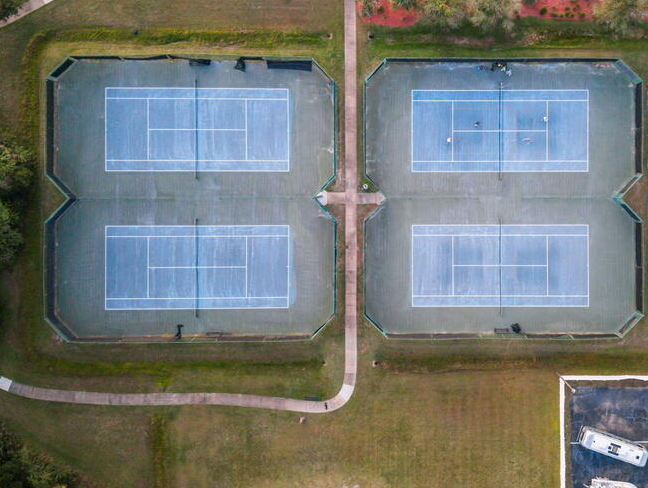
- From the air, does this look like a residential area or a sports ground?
sports ground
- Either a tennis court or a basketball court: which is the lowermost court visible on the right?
tennis court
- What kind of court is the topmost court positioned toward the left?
tennis court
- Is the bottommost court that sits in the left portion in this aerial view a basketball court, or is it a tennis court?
tennis court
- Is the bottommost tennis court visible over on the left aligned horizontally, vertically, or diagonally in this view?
horizontally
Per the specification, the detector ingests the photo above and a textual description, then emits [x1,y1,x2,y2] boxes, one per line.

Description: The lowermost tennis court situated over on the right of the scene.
[367,198,633,333]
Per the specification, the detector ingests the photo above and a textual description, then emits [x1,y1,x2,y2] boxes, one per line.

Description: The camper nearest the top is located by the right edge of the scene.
[573,423,647,468]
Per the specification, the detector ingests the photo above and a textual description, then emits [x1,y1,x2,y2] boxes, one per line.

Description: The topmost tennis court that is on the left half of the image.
[59,64,335,198]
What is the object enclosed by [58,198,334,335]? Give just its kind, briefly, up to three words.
tennis court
